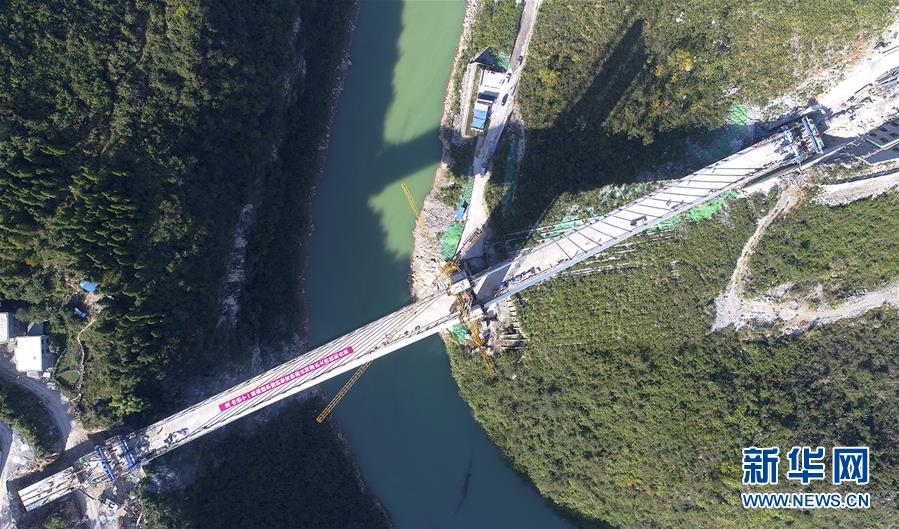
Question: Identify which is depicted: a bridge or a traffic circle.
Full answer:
It is a bridge that can be seen here.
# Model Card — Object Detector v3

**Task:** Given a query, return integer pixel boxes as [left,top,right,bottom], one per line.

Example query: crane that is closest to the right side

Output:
[401,182,499,379]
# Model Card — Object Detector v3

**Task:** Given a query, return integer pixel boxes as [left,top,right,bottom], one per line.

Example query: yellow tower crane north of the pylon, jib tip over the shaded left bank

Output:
[316,237,484,421]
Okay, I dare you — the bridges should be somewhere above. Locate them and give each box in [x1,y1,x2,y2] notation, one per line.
[119,125,799,468]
